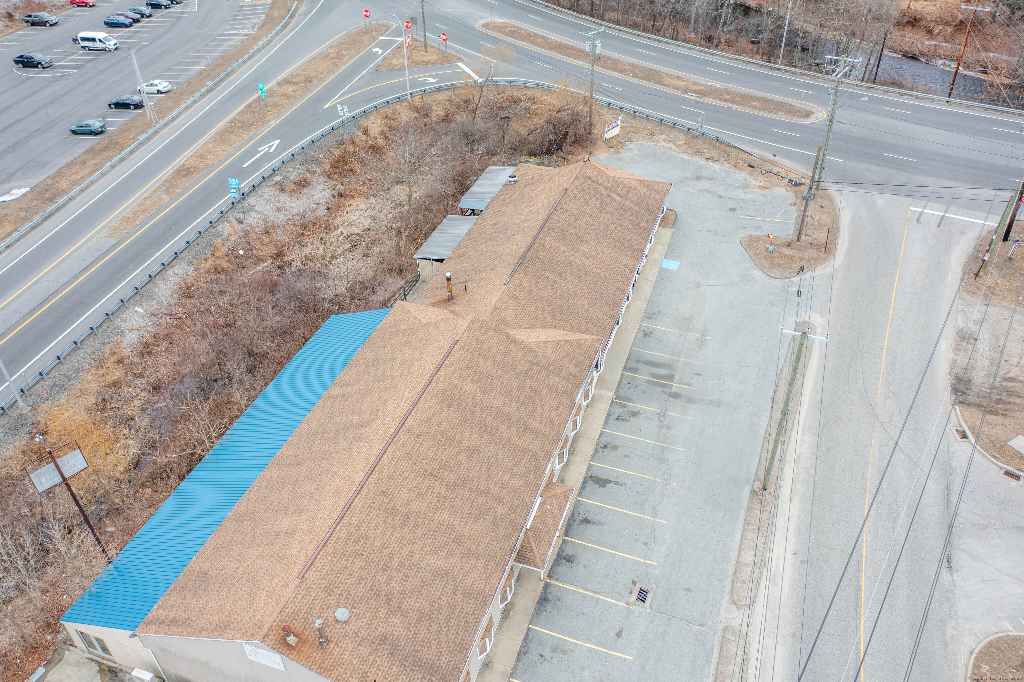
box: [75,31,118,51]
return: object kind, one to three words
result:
vehicle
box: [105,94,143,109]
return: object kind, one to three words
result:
car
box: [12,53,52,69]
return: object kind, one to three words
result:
vehicle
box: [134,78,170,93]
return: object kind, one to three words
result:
car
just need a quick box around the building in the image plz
[57,151,674,682]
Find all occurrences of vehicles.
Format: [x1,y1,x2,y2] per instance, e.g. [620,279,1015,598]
[143,0,171,9]
[12,53,52,69]
[75,31,118,51]
[70,0,94,7]
[102,15,132,27]
[127,6,152,18]
[105,94,143,109]
[115,10,142,22]
[21,13,58,26]
[134,78,170,93]
[68,120,105,135]
[70,34,78,44]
